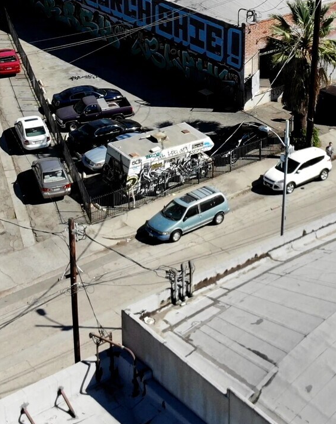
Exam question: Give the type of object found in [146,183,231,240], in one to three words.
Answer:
car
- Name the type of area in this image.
industrial area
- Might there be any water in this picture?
No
